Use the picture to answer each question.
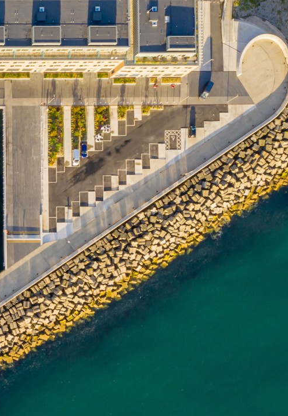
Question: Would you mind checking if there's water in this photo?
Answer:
Yes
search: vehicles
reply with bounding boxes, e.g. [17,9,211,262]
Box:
[71,150,81,167]
[188,125,196,139]
[198,80,213,100]
[79,143,88,156]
